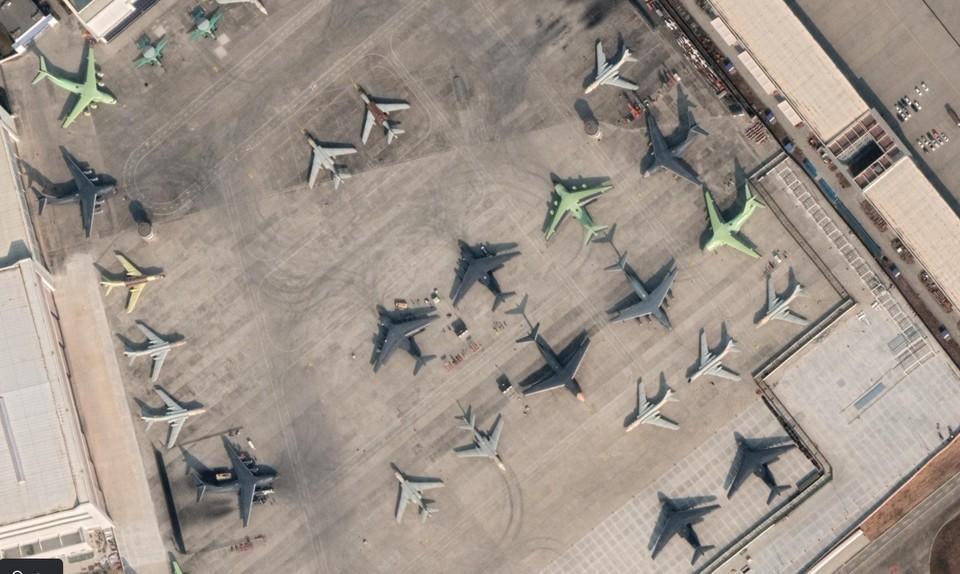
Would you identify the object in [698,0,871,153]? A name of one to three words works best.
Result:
hangar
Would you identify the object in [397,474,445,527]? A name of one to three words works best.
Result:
airplane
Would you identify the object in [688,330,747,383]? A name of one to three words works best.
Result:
airplane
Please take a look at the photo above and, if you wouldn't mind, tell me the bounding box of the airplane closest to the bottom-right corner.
[729,444,798,508]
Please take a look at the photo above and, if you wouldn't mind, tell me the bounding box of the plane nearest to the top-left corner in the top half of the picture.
[32,47,117,128]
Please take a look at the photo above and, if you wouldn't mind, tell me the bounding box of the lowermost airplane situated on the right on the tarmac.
[653,503,722,567]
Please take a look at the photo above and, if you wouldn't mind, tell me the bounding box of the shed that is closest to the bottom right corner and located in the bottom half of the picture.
[810,531,870,574]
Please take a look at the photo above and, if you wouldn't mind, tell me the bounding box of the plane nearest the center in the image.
[454,250,522,314]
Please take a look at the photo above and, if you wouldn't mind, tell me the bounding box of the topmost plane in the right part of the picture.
[585,39,645,93]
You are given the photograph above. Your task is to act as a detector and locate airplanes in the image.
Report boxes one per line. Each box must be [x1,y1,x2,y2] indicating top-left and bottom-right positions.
[218,0,265,11]
[362,96,411,146]
[32,47,117,128]
[702,180,774,255]
[518,324,592,399]
[653,503,722,567]
[397,474,445,527]
[194,433,276,528]
[756,274,816,327]
[94,251,164,313]
[547,185,615,248]
[608,253,680,328]
[585,39,645,93]
[454,250,522,314]
[375,314,441,378]
[626,380,685,432]
[119,324,187,384]
[190,8,225,41]
[729,444,798,508]
[31,144,115,239]
[137,388,204,449]
[309,140,358,191]
[457,415,505,471]
[688,330,747,383]
[643,109,710,185]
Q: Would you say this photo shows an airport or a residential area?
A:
airport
